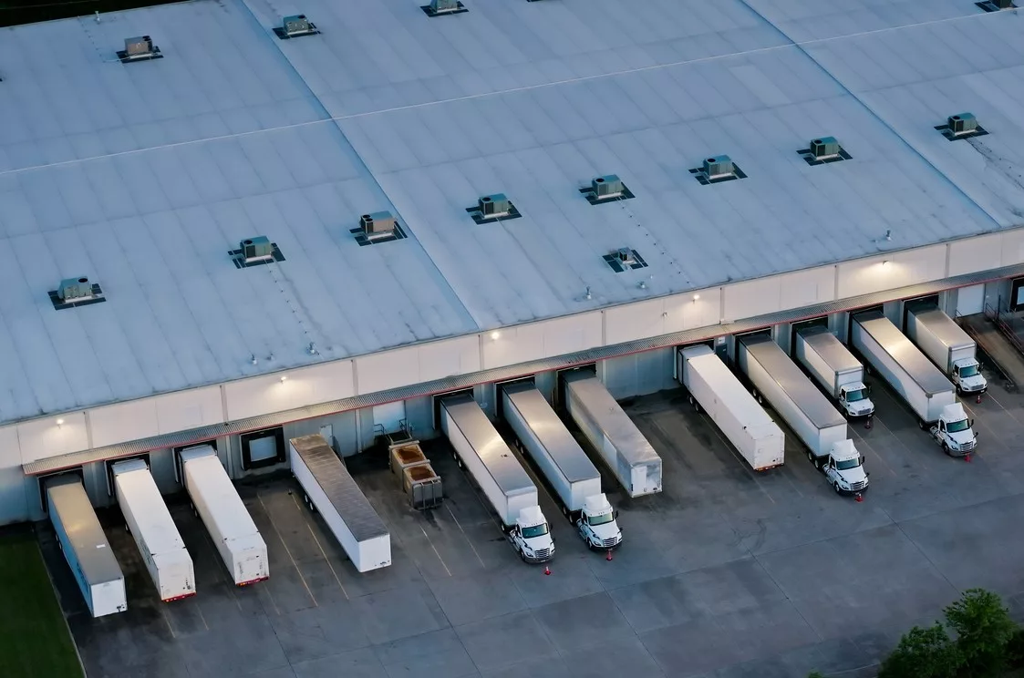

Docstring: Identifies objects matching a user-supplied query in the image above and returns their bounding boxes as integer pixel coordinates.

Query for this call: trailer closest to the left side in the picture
[47,472,127,617]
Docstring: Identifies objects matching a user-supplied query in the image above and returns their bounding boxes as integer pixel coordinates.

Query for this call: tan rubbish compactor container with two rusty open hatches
[388,439,443,511]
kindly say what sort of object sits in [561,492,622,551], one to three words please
truck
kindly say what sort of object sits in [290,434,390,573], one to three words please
trailer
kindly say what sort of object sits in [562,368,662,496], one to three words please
trailer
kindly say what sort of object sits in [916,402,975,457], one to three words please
truck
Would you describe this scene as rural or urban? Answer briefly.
urban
